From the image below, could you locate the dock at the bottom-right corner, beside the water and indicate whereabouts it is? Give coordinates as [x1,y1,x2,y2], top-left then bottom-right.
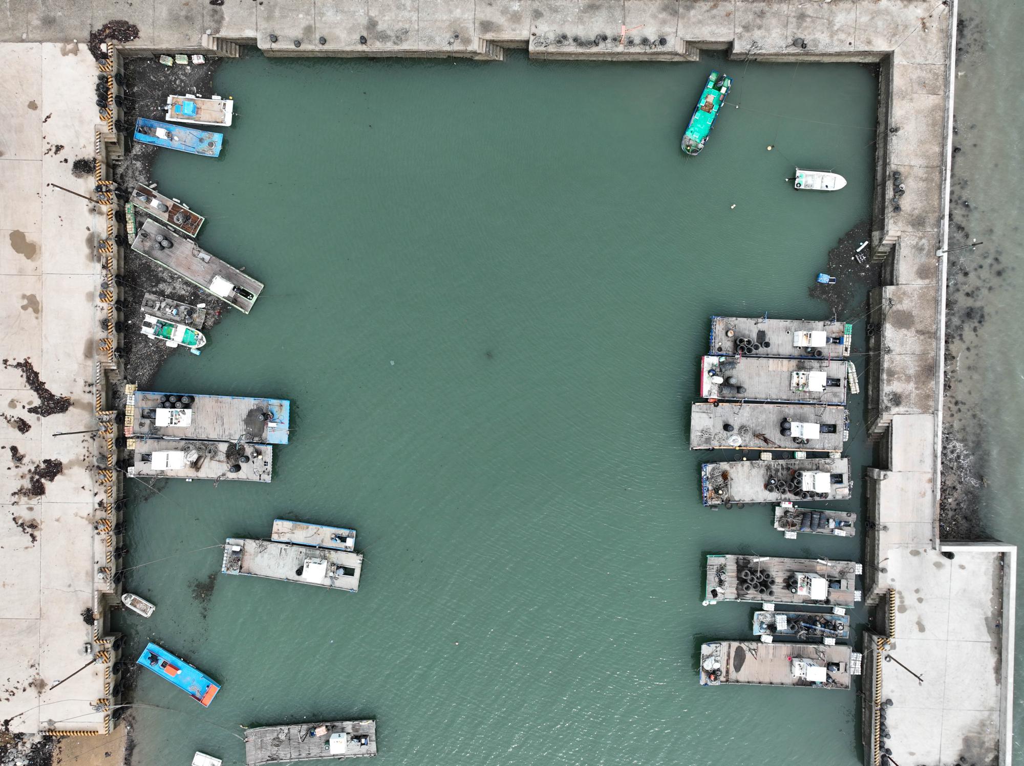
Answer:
[857,539,1018,766]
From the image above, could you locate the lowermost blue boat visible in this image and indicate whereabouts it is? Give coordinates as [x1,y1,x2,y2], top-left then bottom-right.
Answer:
[137,643,222,708]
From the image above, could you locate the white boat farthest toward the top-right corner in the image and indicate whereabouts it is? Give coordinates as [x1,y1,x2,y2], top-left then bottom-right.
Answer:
[785,168,848,191]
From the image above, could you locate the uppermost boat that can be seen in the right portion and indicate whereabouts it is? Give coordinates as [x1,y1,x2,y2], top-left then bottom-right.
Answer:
[681,70,734,157]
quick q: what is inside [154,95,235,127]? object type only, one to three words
boat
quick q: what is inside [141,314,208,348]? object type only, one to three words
boat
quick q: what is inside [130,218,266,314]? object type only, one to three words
ship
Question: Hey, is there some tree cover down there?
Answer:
No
